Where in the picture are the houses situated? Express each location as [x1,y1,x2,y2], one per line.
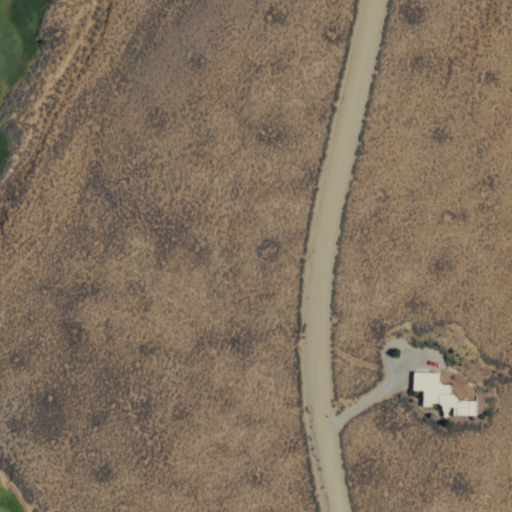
[414,372,478,418]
